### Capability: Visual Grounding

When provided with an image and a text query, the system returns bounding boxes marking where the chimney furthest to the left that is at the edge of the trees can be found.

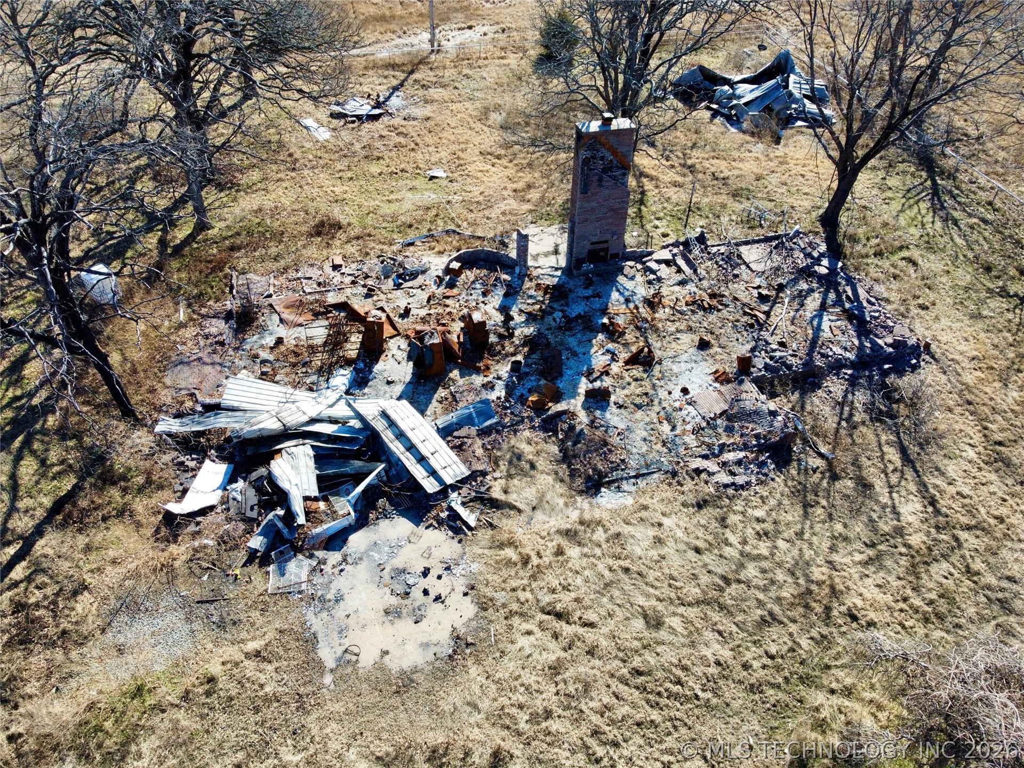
[557,109,637,275]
